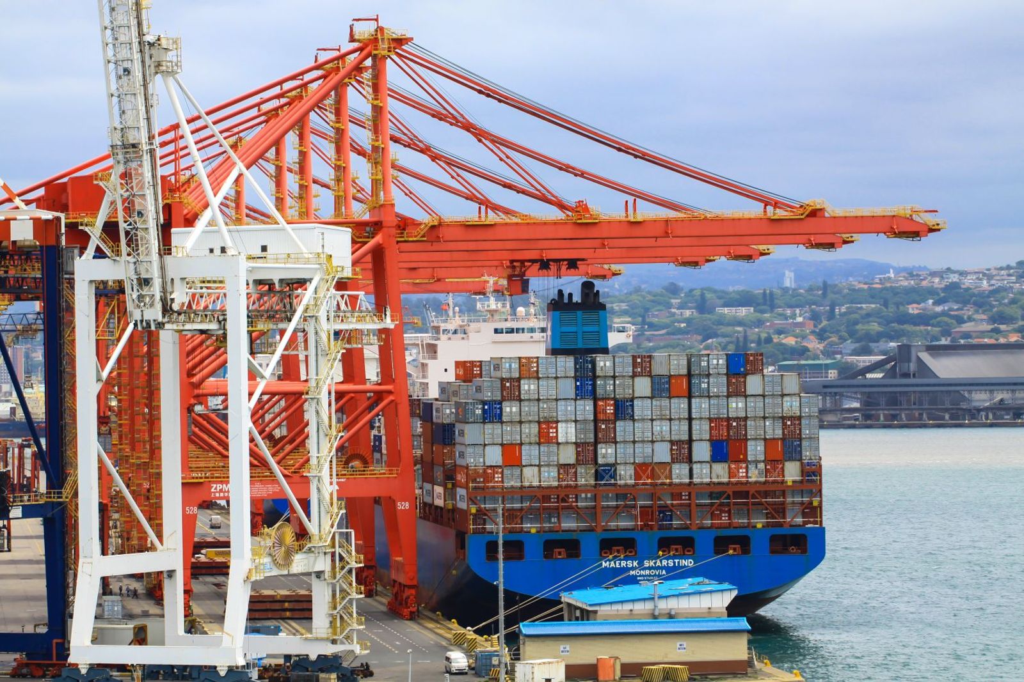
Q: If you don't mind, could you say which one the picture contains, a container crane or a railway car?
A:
container crane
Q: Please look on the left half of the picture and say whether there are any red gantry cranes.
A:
Yes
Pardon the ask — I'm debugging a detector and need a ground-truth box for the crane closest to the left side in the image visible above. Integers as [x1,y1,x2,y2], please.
[0,176,126,671]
